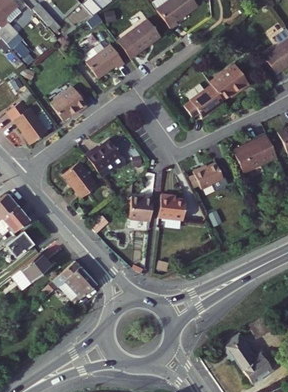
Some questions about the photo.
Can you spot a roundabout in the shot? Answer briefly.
Yes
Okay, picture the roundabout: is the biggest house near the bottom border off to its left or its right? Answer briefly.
to the right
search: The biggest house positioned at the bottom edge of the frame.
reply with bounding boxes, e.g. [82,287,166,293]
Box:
[229,342,264,378]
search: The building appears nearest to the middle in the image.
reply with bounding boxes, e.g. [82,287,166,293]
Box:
[128,195,154,222]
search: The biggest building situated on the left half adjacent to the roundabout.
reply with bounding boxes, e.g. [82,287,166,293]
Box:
[66,268,100,302]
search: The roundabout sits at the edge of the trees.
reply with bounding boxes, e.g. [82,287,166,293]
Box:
[86,284,188,374]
